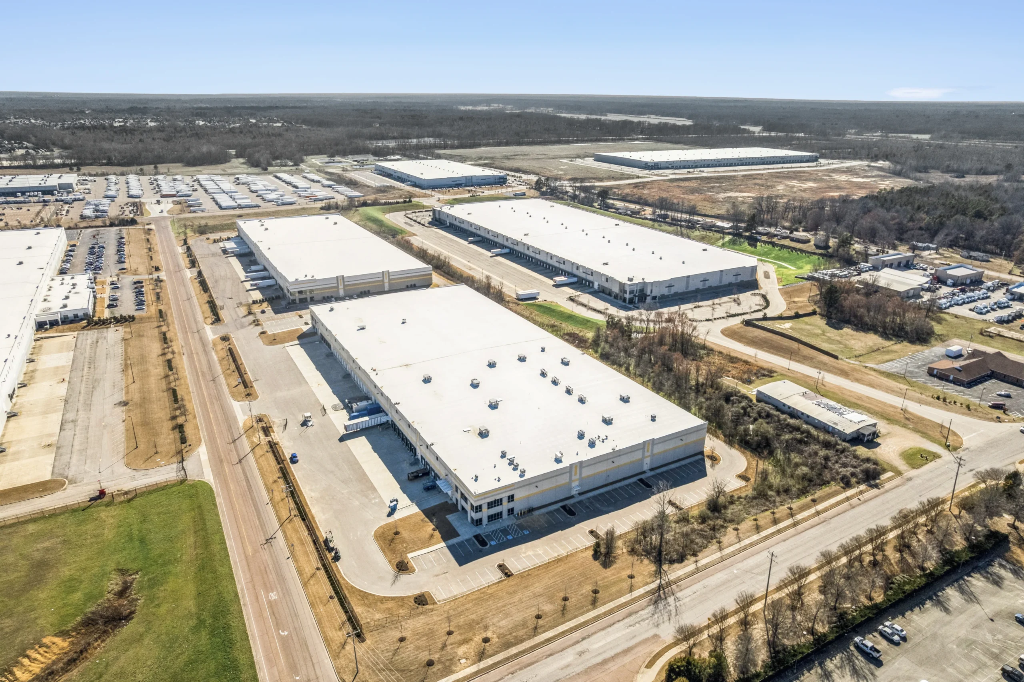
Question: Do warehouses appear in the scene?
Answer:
Yes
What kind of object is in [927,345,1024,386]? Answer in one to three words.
building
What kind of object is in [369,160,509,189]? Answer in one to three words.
building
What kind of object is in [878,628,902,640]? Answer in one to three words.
vehicle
